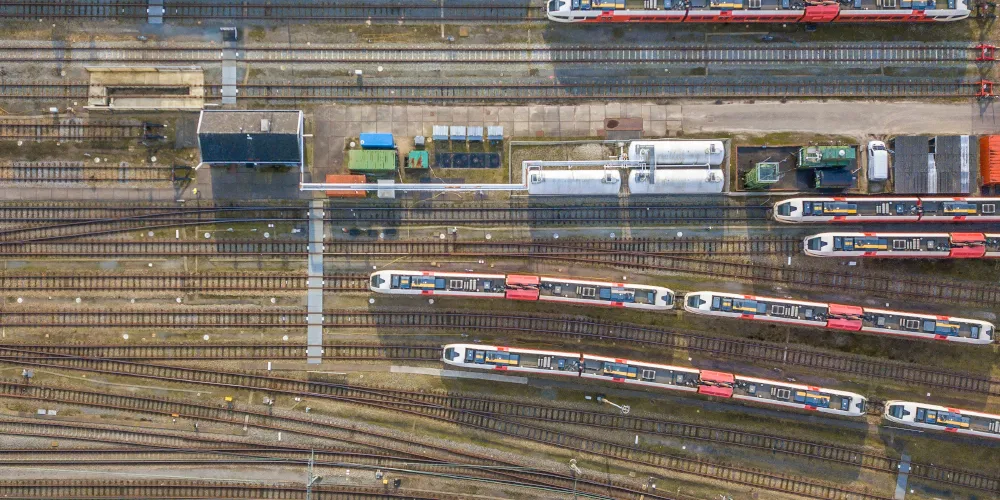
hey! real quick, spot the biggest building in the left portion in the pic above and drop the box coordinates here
[195,108,309,170]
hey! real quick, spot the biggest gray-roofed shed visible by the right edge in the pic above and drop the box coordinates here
[883,136,978,195]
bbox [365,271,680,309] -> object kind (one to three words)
train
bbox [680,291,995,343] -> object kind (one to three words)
train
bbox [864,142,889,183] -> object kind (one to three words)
vehicle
